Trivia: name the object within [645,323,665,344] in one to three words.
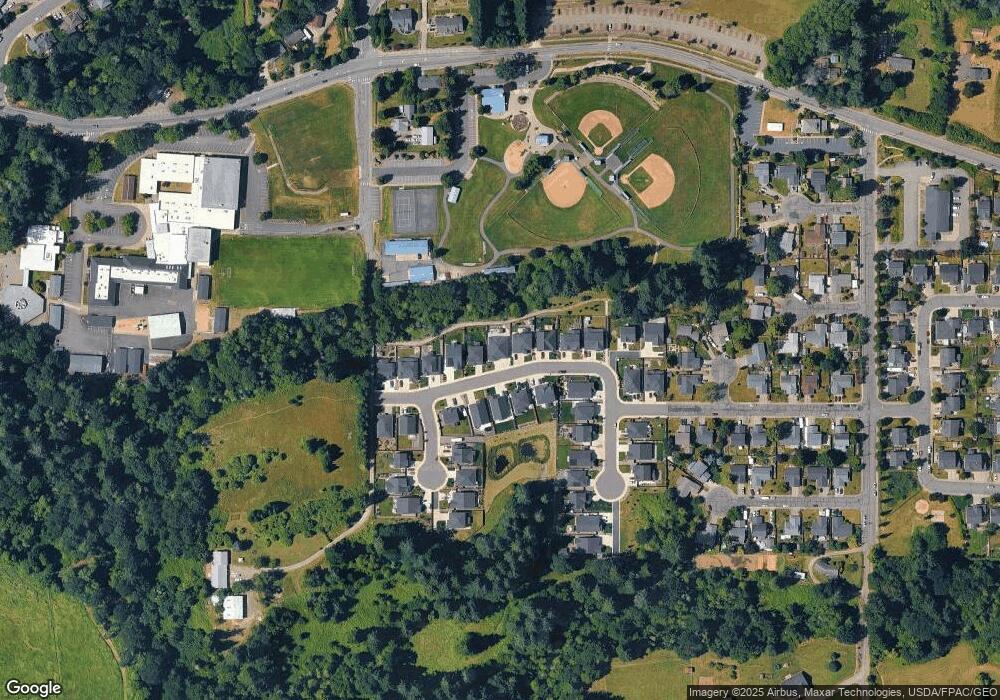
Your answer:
house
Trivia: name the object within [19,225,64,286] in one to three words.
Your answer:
building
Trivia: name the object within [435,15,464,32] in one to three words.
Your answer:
house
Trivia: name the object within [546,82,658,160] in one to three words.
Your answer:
baseball field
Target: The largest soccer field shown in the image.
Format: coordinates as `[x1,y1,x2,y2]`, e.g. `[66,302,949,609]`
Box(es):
[216,233,361,309]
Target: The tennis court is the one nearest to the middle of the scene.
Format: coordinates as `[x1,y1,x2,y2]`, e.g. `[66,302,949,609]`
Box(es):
[392,188,438,234]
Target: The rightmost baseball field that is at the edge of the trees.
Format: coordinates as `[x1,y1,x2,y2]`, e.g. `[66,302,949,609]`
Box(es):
[620,127,700,227]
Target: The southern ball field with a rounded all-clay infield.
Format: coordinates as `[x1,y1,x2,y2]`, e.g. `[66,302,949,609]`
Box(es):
[508,160,622,242]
